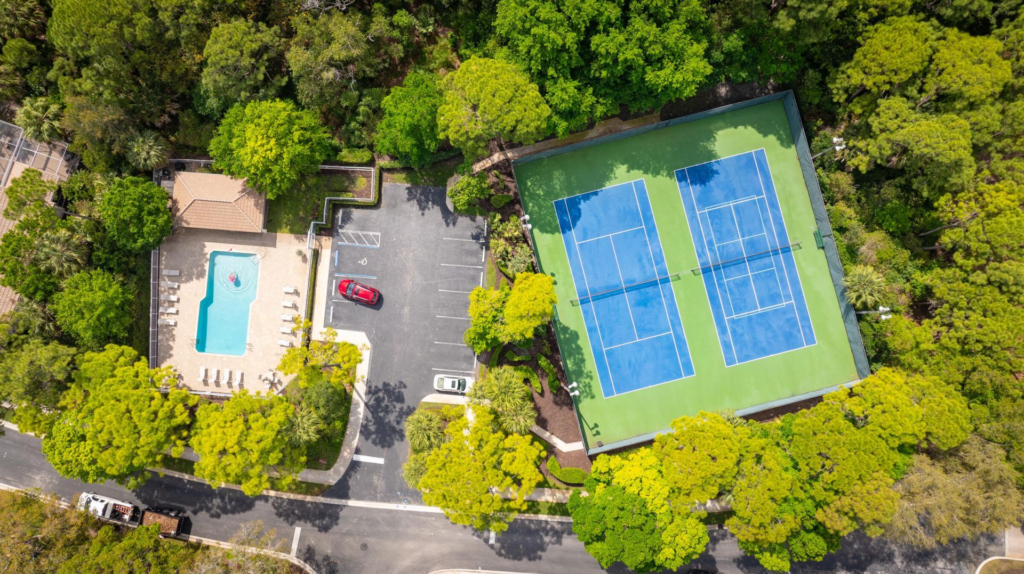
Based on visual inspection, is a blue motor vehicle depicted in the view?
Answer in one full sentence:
No, the photo shows no blue motor vehicle.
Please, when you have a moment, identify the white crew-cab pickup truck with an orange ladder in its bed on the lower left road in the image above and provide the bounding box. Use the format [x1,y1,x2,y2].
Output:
[78,492,137,525]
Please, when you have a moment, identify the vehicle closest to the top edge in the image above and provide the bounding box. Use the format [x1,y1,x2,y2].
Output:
[339,281,379,305]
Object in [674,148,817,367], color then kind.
blue tennis court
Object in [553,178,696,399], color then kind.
blue tennis court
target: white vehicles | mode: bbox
[78,492,137,525]
[433,374,476,394]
